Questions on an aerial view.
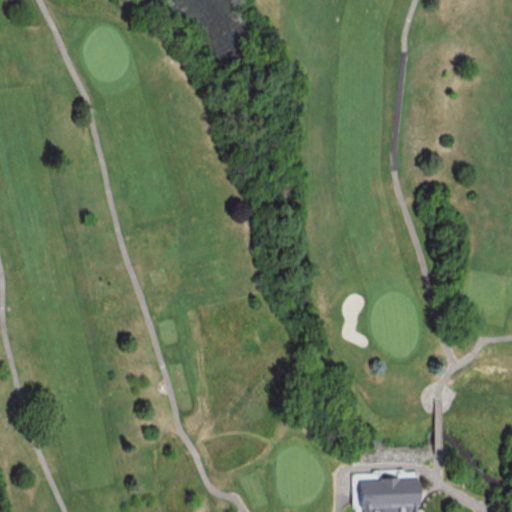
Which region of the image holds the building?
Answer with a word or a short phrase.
bottom right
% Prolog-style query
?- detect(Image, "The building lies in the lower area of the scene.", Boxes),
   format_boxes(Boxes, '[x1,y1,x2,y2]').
[351,468,421,512]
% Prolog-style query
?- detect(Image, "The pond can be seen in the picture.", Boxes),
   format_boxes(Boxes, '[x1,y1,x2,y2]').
[174,0,238,58]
